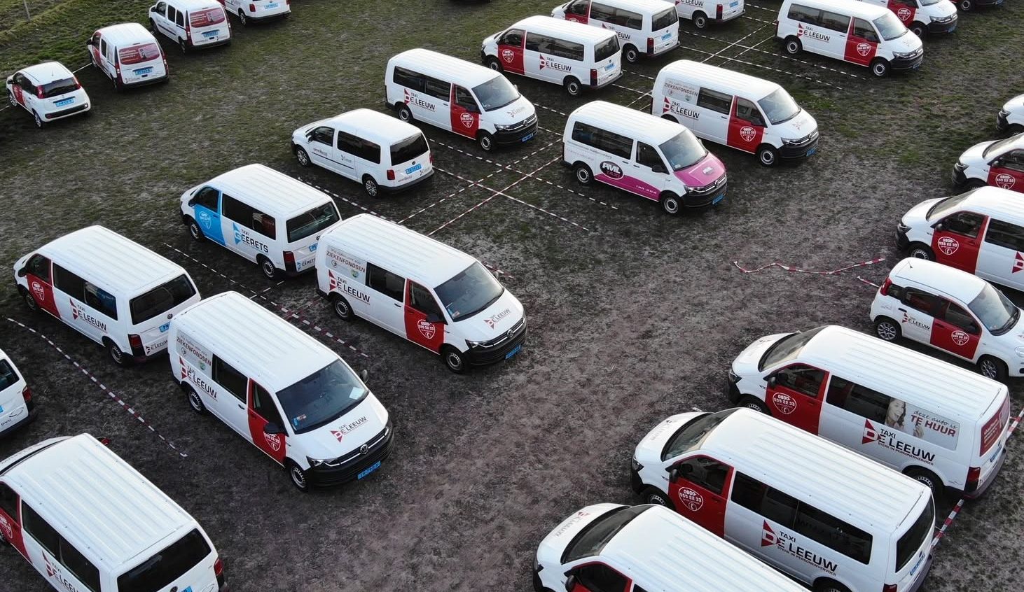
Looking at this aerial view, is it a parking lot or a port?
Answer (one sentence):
The area seen from above is a parking lot.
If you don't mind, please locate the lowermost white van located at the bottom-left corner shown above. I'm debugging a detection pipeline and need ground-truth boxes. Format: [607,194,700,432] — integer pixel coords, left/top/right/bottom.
[0,425,229,592]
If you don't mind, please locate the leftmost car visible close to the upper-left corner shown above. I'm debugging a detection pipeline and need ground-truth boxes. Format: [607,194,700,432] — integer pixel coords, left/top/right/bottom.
[2,60,90,127]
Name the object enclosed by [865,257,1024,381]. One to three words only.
car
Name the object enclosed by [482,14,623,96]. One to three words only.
van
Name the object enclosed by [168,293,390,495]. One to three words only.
van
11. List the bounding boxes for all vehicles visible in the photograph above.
[2,60,90,127]
[949,0,1001,13]
[482,14,623,96]
[149,0,231,54]
[0,425,229,592]
[856,0,957,40]
[529,498,815,592]
[664,0,744,29]
[83,24,169,93]
[0,351,36,442]
[948,127,1024,194]
[214,0,290,27]
[383,51,536,154]
[773,0,922,77]
[553,0,685,64]
[183,164,343,282]
[648,60,817,167]
[12,225,202,366]
[627,403,936,592]
[865,257,1024,381]
[726,324,1012,508]
[557,101,725,218]
[293,108,432,197]
[995,84,1024,133]
[892,186,1024,292]
[168,293,390,495]
[314,215,525,377]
